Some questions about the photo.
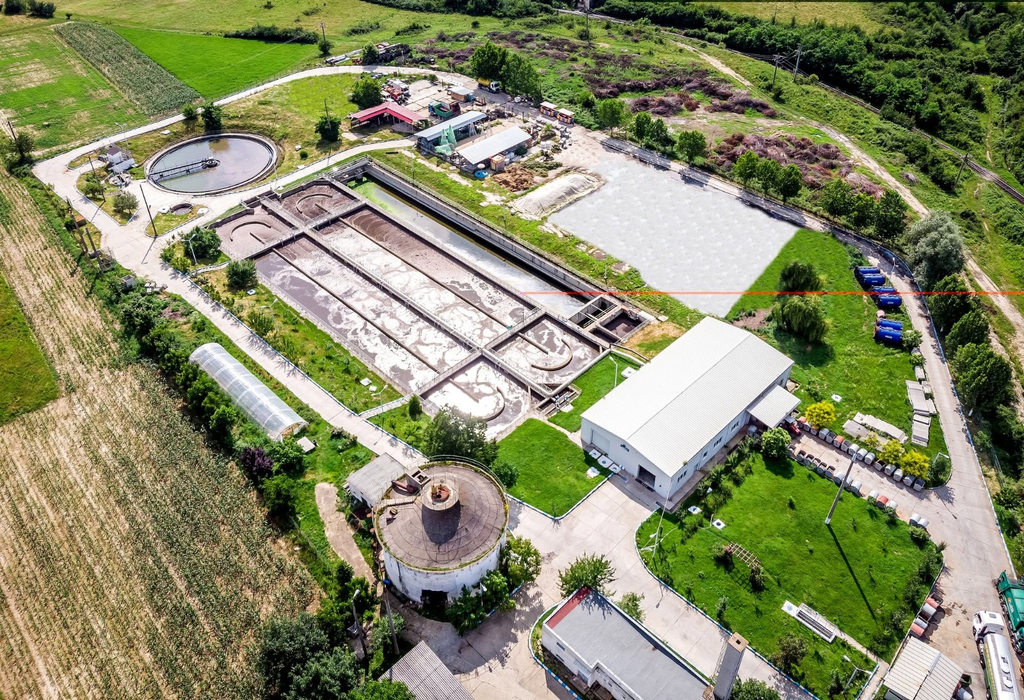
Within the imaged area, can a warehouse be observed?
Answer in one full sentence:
Yes, a warehouse appears in the view.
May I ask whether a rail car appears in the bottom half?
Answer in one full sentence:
No, no rail car appears in the bottom half.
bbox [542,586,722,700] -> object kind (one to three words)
building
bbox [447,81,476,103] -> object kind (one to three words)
shed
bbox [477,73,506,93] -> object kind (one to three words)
vehicle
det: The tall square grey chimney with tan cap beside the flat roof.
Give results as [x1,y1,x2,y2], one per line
[709,633,751,700]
